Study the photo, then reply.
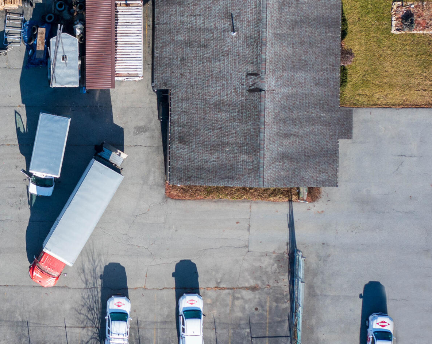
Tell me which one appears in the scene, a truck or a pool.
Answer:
truck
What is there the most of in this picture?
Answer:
paved ground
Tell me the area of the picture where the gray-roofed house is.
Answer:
top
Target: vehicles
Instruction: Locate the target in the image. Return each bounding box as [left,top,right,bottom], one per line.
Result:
[362,312,398,344]
[26,141,130,291]
[103,293,134,344]
[20,112,71,200]
[175,291,207,344]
